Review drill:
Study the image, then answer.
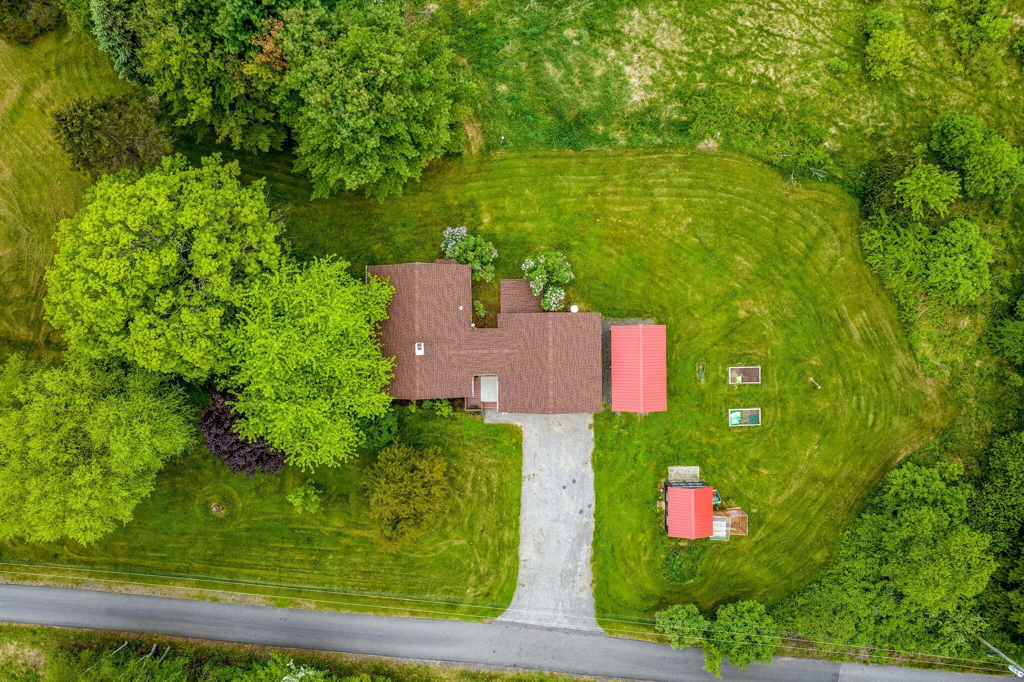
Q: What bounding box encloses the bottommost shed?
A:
[665,481,713,542]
